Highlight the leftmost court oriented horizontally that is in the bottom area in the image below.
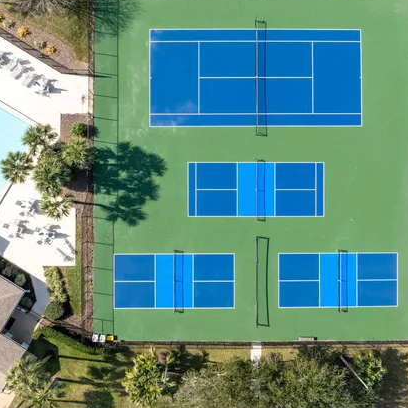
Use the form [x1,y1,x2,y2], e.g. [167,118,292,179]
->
[114,254,234,308]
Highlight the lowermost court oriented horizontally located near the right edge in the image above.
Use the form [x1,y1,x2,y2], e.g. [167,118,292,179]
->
[279,253,397,307]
